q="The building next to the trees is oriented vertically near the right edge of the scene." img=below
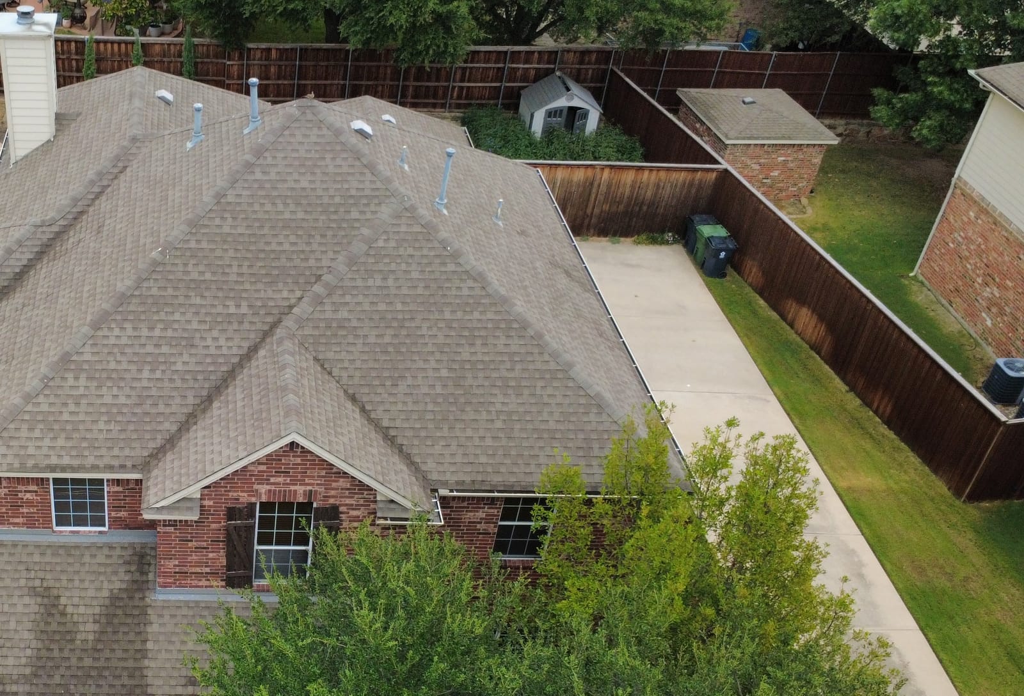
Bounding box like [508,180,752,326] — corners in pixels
[903,60,1024,362]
